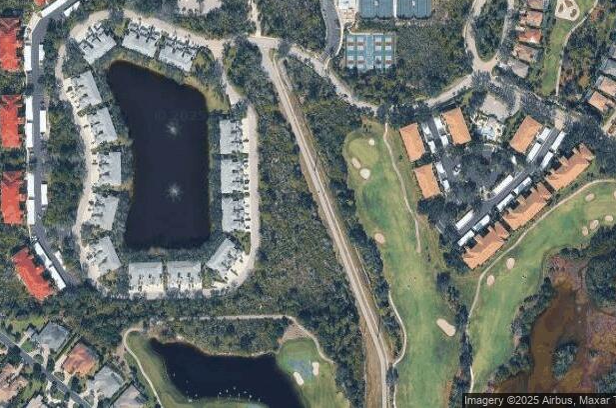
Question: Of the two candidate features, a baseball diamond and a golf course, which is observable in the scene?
golf course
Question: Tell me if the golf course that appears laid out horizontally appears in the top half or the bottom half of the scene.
bottom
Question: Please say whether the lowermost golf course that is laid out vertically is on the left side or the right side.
right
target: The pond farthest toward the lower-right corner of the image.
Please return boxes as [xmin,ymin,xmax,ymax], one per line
[488,293,597,408]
